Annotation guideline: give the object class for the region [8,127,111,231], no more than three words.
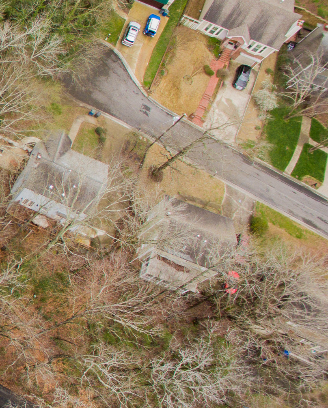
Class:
house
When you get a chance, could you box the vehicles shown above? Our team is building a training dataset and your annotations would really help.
[144,13,160,37]
[122,21,141,45]
[234,65,250,89]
